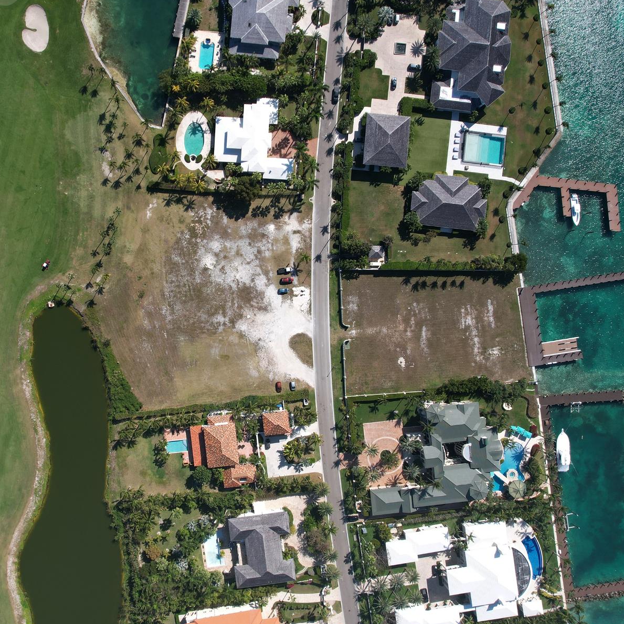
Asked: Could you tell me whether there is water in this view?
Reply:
Yes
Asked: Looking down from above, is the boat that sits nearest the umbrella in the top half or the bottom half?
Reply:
bottom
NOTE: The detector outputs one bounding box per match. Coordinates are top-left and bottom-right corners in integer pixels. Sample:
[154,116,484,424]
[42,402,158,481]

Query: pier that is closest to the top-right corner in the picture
[513,169,623,232]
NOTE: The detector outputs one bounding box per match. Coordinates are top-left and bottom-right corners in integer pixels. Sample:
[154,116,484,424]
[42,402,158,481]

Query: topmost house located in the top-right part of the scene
[430,0,511,113]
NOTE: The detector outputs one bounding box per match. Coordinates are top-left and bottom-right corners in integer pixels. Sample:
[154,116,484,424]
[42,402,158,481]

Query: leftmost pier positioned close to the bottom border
[540,406,576,601]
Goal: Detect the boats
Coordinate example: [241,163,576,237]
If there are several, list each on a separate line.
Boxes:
[570,193,581,224]
[555,420,578,477]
